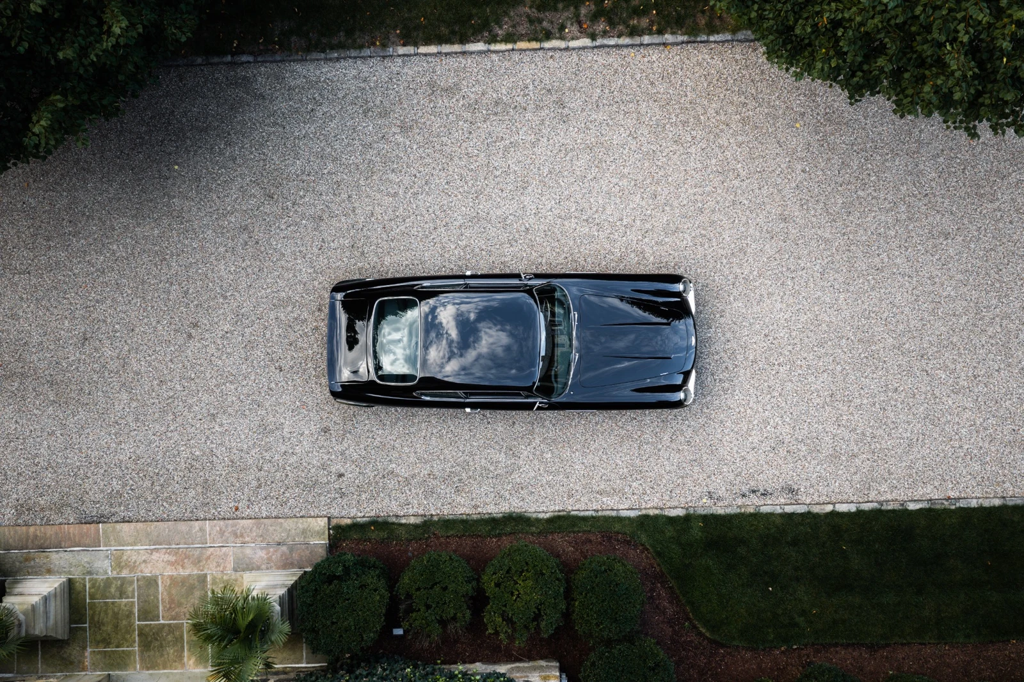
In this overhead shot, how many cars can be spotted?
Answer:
1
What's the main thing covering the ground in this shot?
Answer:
paved ground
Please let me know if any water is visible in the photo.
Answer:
No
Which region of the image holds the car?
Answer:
center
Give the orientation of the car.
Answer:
from left to right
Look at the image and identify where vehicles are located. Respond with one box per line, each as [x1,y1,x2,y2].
[328,269,698,414]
